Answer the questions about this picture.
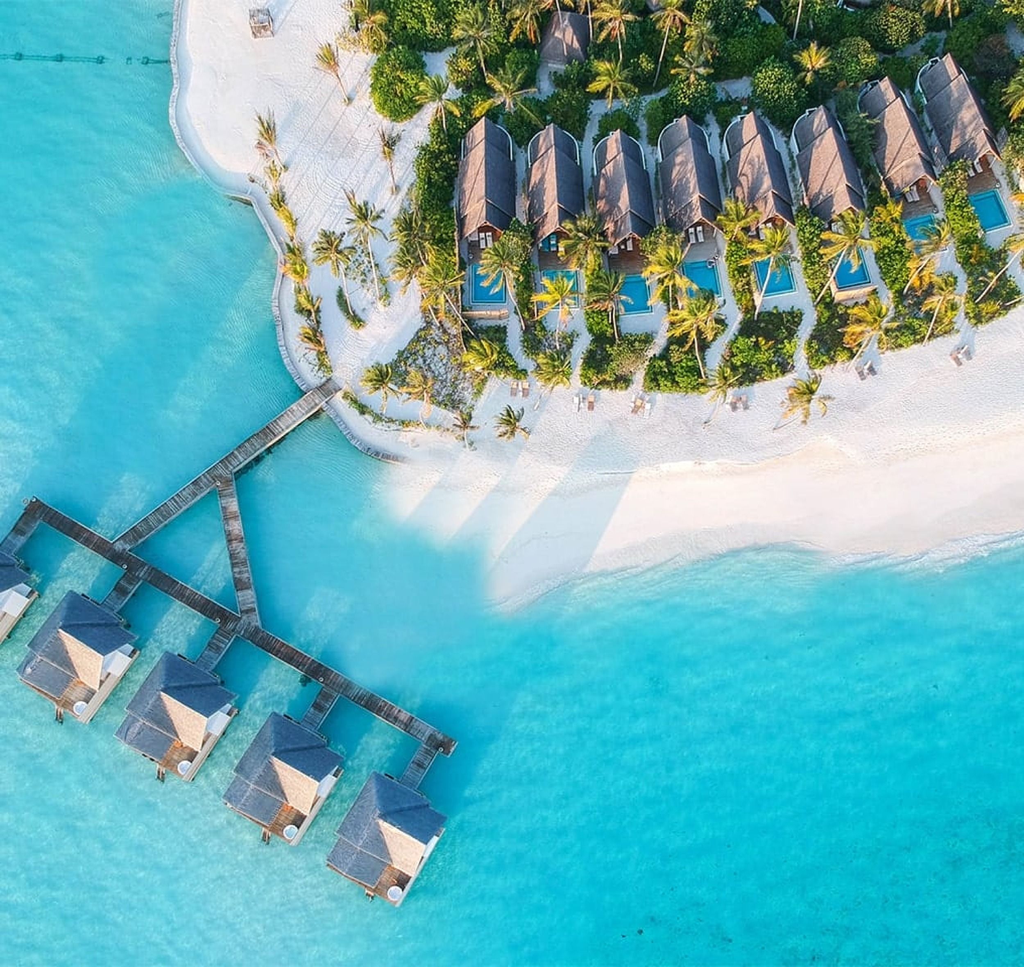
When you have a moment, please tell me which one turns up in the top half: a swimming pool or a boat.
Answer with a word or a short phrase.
swimming pool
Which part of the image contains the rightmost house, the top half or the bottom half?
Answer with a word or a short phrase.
top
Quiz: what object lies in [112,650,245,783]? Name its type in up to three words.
house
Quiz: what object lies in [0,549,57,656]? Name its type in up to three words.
house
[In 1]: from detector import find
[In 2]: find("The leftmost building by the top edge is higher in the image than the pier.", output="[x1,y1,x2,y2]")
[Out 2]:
[245,5,271,37]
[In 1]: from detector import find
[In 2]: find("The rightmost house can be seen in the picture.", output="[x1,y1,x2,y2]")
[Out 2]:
[913,54,1020,226]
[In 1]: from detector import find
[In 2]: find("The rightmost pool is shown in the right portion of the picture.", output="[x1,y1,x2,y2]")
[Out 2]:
[968,189,1011,234]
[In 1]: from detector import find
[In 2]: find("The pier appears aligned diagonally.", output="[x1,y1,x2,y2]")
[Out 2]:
[117,378,342,550]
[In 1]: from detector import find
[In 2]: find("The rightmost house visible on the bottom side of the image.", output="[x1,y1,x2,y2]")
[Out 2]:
[324,770,455,915]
